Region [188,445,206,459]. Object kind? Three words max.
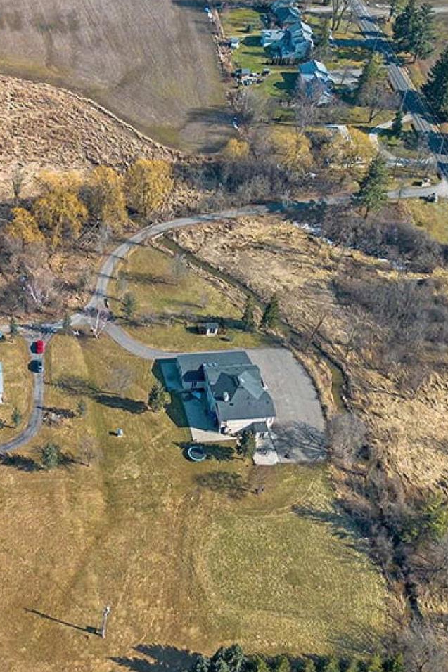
trampoline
